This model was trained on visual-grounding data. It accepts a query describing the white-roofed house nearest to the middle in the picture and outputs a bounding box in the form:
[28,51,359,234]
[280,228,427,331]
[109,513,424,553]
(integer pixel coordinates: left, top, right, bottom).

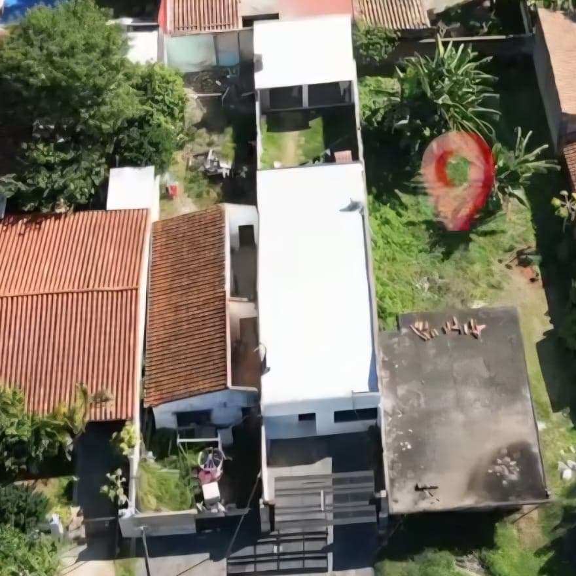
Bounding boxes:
[254,161,388,446]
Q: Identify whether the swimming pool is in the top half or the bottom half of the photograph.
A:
top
